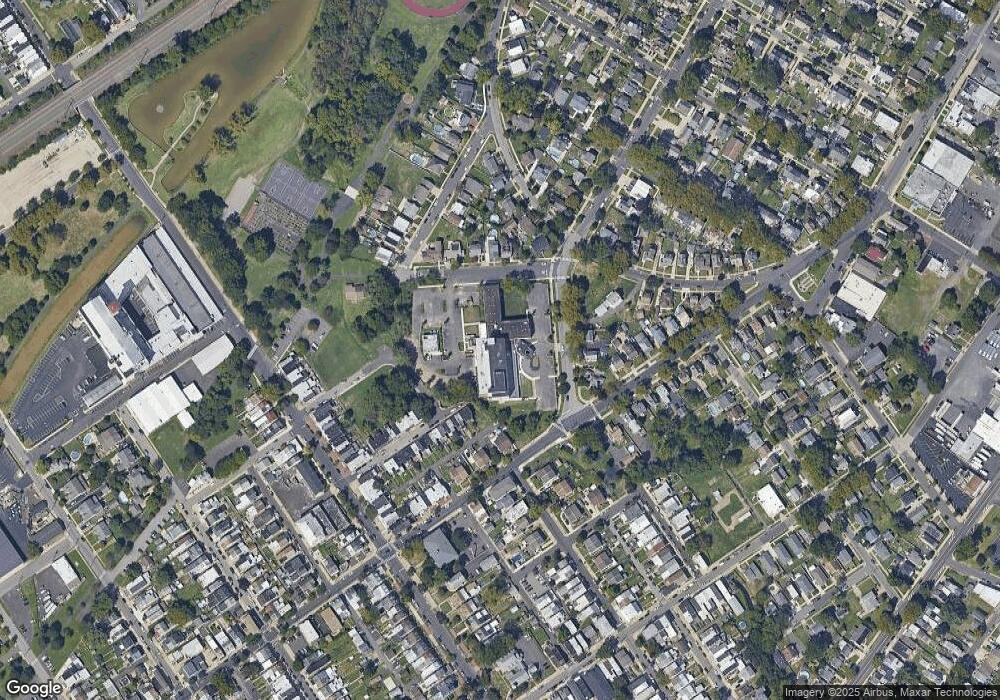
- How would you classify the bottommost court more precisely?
tennis court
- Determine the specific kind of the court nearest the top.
basketball court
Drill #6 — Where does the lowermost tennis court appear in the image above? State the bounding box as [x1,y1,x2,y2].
[240,192,309,255]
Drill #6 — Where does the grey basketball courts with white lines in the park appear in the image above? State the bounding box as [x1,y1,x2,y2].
[263,161,327,219]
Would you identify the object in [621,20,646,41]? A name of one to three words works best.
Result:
house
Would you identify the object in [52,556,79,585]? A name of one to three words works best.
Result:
building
